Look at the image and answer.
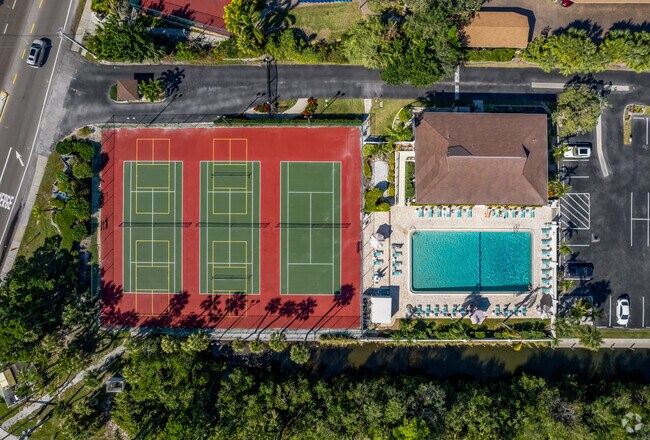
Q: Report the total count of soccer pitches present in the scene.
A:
zero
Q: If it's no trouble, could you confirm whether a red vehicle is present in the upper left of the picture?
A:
No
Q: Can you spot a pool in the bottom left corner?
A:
No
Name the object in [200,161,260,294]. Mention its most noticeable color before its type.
green tennis court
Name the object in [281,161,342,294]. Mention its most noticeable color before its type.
green tennis court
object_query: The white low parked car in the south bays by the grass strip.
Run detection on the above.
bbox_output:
[614,298,630,325]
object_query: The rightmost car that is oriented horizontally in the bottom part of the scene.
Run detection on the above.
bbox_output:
[564,263,593,277]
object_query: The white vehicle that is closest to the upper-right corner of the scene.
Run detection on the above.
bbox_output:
[561,145,590,159]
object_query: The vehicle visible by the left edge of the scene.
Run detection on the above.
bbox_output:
[27,39,49,68]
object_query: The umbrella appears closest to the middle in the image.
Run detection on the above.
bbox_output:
[369,233,383,248]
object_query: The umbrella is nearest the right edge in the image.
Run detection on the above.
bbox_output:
[536,304,550,318]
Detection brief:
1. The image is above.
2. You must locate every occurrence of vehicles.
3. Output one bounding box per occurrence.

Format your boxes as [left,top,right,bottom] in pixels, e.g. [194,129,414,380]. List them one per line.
[27,39,49,68]
[561,145,590,159]
[559,0,572,10]
[564,263,593,277]
[614,298,630,325]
